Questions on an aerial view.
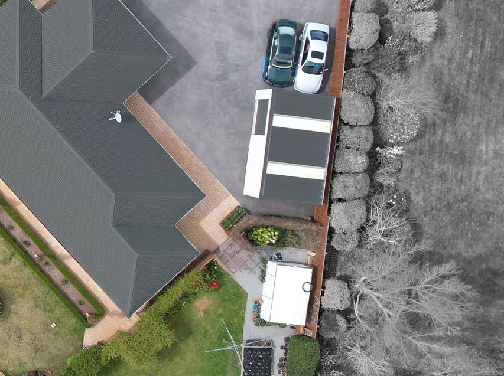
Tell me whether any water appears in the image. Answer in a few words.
No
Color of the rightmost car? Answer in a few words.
white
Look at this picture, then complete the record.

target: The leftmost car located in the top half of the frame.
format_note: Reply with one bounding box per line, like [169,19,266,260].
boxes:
[263,19,298,88]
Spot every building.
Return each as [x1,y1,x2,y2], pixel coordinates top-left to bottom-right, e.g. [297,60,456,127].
[259,263,312,326]
[246,90,338,204]
[0,0,209,319]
